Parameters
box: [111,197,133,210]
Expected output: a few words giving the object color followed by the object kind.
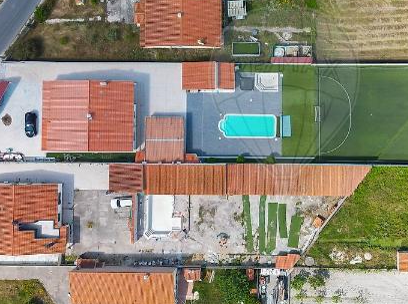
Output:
white vehicle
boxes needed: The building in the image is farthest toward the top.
[134,0,222,48]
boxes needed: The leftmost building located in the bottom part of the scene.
[0,182,72,262]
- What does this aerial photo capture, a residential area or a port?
residential area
